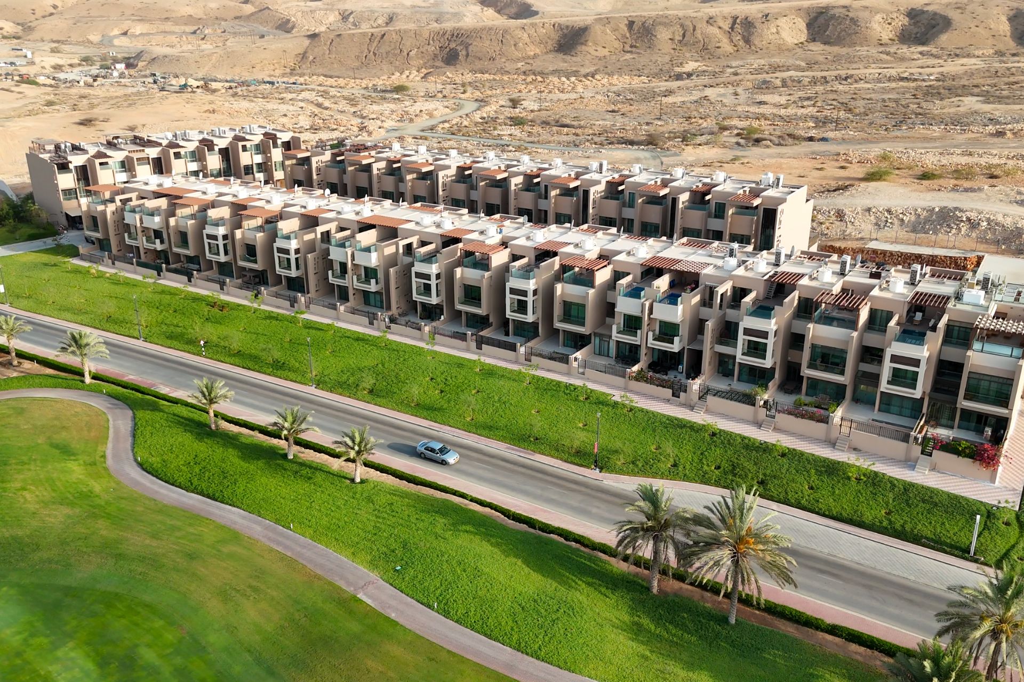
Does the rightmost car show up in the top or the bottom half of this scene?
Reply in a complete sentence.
The bottom half of the photo is where the rightmost car is.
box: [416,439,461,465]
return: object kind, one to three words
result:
car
